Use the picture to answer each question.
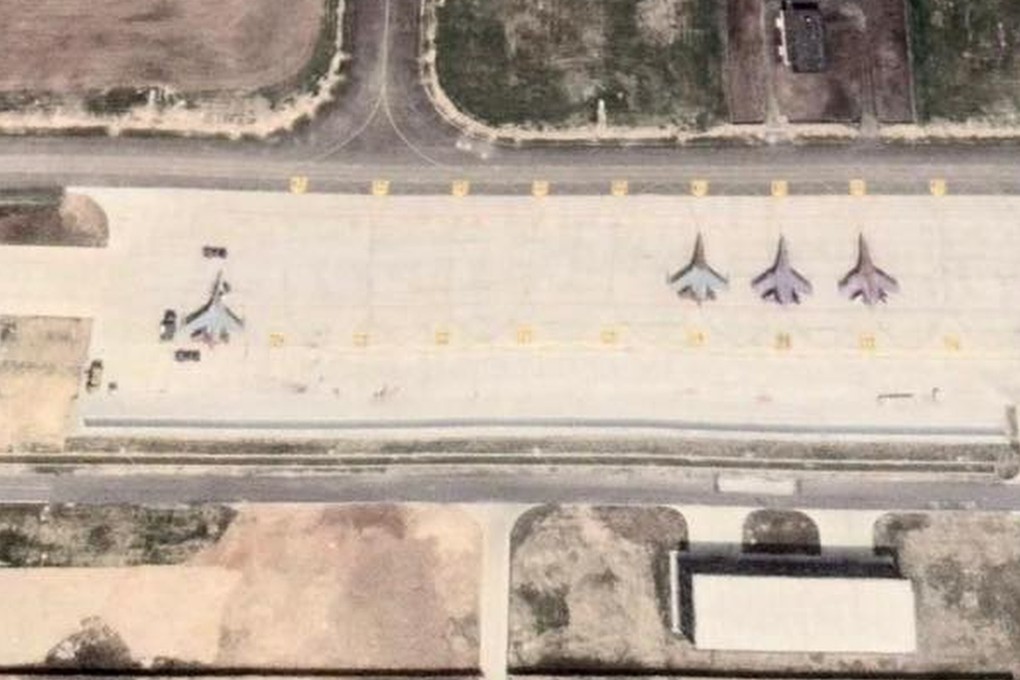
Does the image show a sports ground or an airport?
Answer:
airport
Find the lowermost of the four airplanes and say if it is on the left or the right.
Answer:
left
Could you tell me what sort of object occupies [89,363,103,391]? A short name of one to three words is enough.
vehicle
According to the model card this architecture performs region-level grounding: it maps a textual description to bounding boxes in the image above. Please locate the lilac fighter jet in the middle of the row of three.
[754,235,813,308]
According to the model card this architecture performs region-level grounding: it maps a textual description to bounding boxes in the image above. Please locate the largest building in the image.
[693,573,915,651]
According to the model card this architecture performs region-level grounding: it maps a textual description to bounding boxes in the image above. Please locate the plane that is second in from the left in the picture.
[669,237,729,307]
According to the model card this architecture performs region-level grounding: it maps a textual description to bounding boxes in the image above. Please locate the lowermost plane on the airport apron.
[180,276,242,349]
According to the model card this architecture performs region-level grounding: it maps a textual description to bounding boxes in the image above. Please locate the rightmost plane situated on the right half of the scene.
[840,237,899,307]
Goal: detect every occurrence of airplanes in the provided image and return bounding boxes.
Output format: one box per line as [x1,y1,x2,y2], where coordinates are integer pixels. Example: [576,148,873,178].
[840,237,899,307]
[180,276,242,349]
[669,237,729,307]
[754,235,813,308]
